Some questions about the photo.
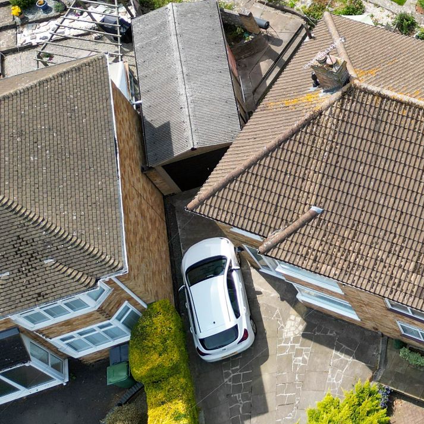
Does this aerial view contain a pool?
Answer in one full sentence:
No, I find no pool anywhere in the image.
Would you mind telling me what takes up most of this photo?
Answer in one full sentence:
The bulk of the photo consists of buildings.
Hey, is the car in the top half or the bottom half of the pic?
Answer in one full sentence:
Seen from above, the car lies in the bottom half of the view.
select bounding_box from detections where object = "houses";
[185,14,424,350]
[0,59,182,400]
